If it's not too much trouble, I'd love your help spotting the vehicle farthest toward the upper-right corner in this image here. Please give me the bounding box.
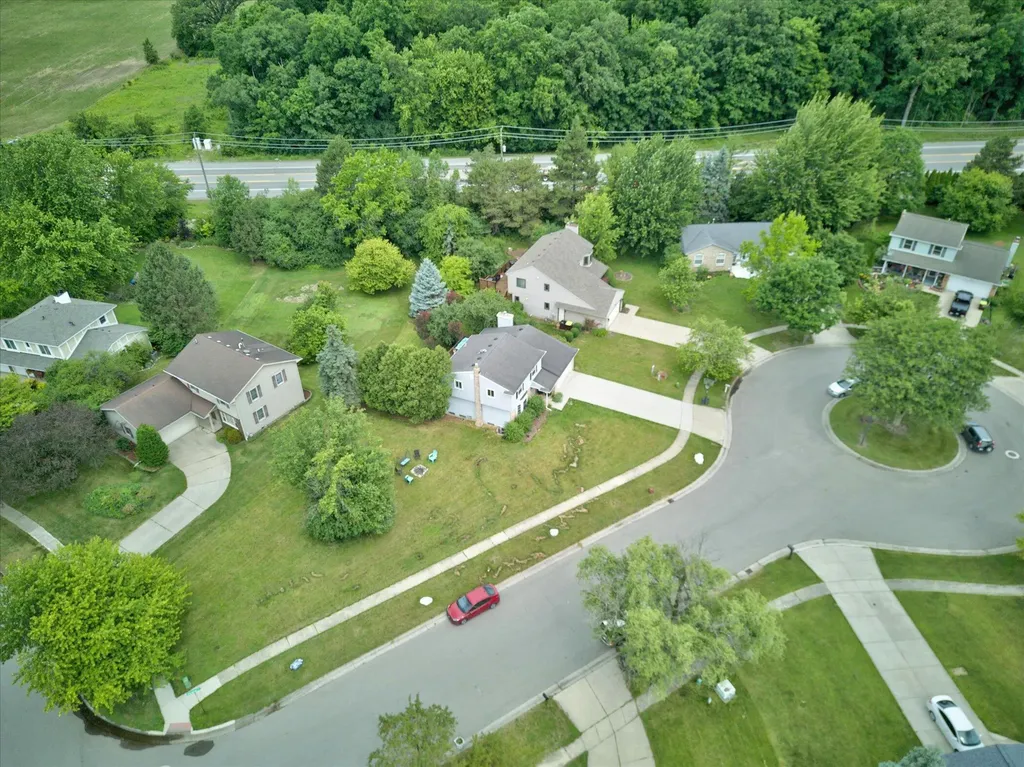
[950,291,972,317]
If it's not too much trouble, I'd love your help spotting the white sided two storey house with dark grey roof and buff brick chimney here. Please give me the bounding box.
[440,308,579,427]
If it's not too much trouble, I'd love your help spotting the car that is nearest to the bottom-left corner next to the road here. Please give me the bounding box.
[448,582,504,627]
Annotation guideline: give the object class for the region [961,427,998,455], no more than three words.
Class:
car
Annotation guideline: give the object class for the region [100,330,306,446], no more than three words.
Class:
house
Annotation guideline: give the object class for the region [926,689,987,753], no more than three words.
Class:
car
